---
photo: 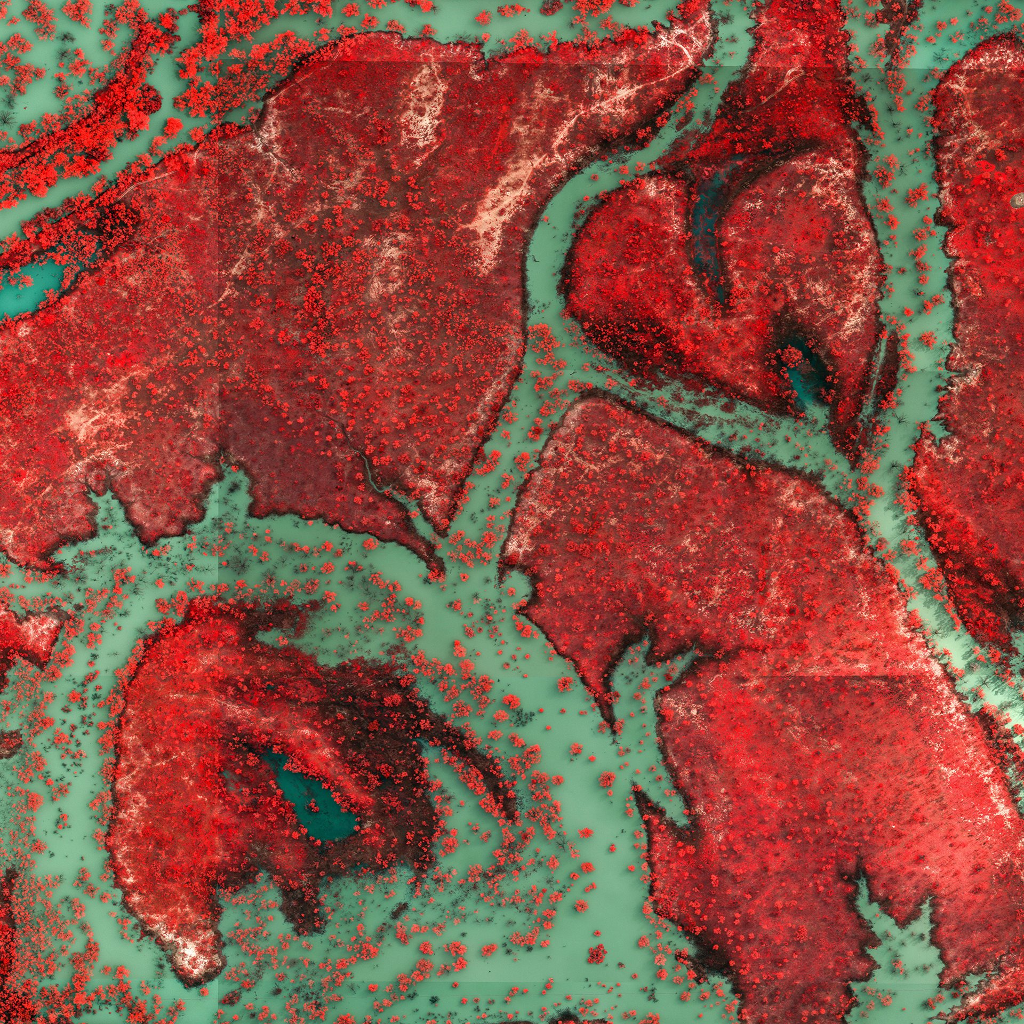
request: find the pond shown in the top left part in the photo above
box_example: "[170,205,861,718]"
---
[0,227,108,321]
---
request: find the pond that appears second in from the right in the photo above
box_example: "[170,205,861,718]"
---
[697,156,738,301]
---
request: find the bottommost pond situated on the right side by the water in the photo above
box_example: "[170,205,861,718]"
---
[783,333,831,414]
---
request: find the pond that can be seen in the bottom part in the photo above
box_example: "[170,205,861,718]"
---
[263,748,359,843]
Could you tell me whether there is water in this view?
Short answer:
Yes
